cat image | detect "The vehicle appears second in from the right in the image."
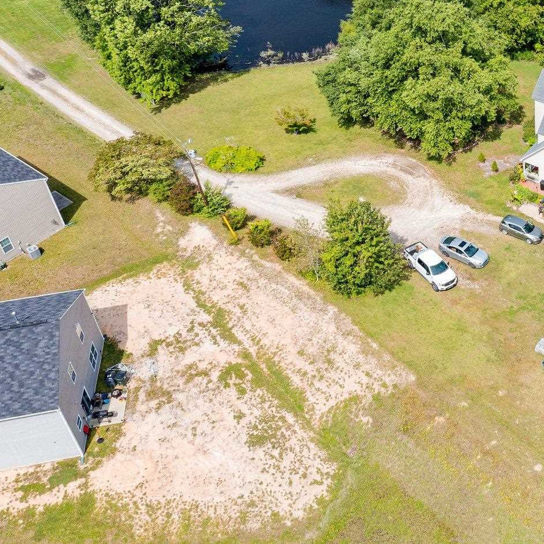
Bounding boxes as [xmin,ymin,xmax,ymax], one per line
[436,231,491,267]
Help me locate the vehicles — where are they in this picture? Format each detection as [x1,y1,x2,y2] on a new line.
[497,209,544,243]
[405,237,461,291]
[436,231,491,267]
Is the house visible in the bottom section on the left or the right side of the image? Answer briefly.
left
